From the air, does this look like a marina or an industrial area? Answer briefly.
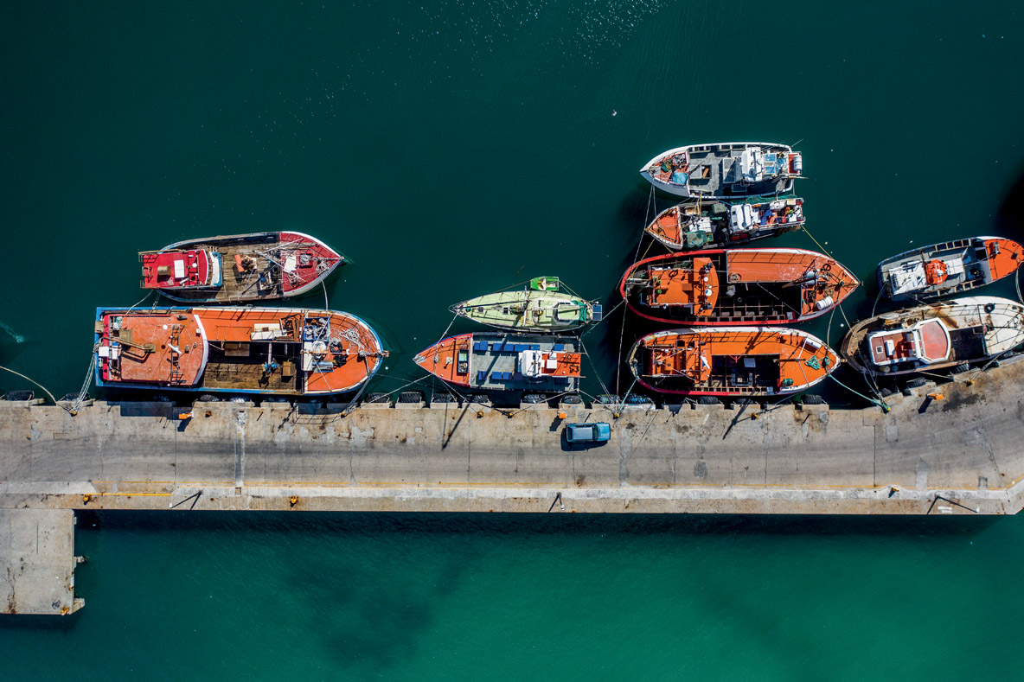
marina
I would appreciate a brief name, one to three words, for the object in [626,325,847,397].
boat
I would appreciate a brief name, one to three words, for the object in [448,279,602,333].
boat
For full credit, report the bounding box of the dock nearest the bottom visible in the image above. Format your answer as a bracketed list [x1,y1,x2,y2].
[0,509,88,614]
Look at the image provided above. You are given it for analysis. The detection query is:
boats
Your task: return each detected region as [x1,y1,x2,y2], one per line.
[138,230,350,303]
[626,325,847,397]
[829,295,1024,376]
[617,246,865,327]
[643,192,810,250]
[413,331,586,394]
[95,306,394,396]
[636,139,809,200]
[870,235,1024,301]
[448,279,602,333]
[530,276,559,291]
